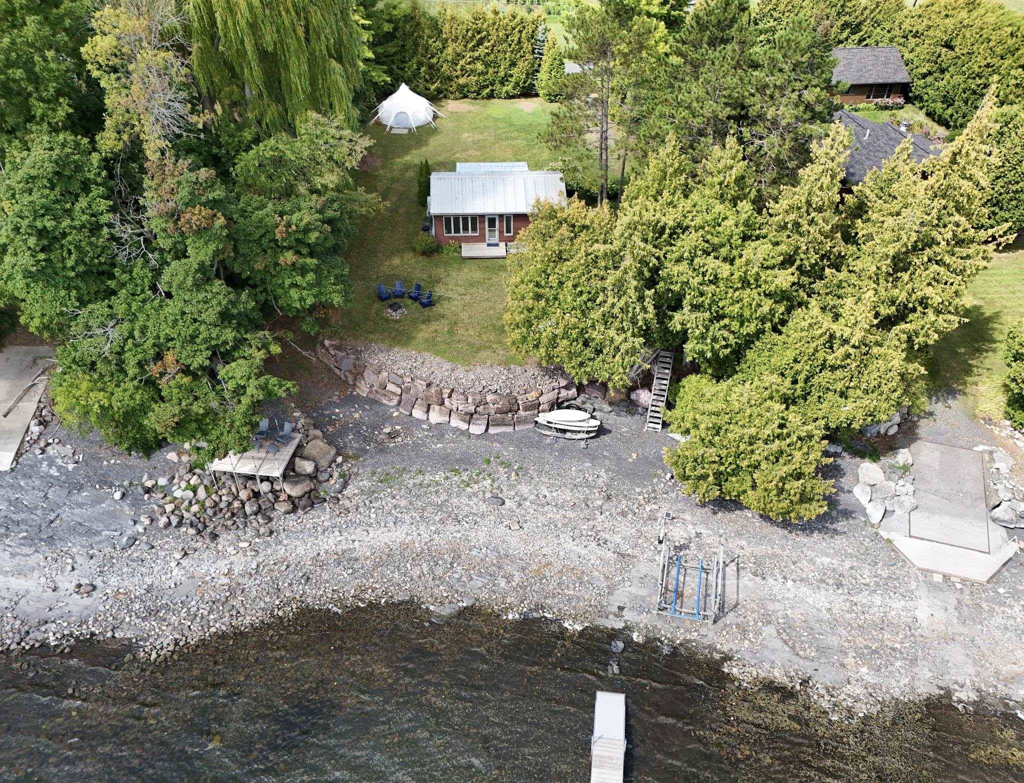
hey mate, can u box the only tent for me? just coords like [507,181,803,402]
[364,82,447,138]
